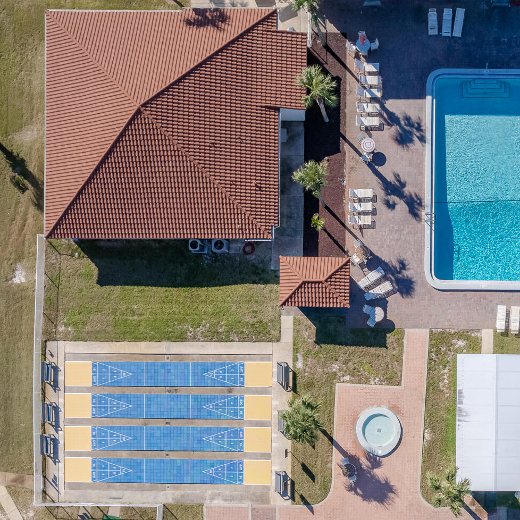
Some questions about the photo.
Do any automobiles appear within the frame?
No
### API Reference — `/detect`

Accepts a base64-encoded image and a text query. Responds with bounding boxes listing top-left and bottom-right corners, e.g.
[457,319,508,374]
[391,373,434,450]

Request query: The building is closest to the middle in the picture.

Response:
[279,256,351,309]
